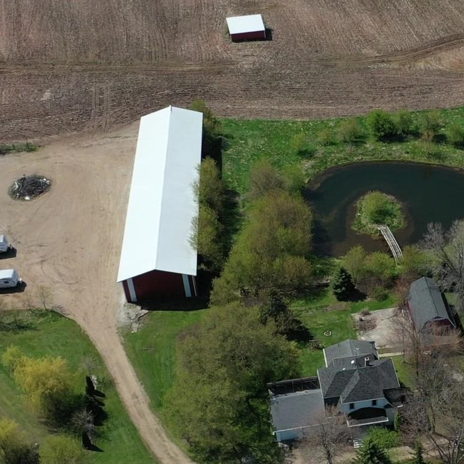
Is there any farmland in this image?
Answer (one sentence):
Yes, the picture does contain farmland.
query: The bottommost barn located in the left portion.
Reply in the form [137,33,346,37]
[111,106,205,323]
